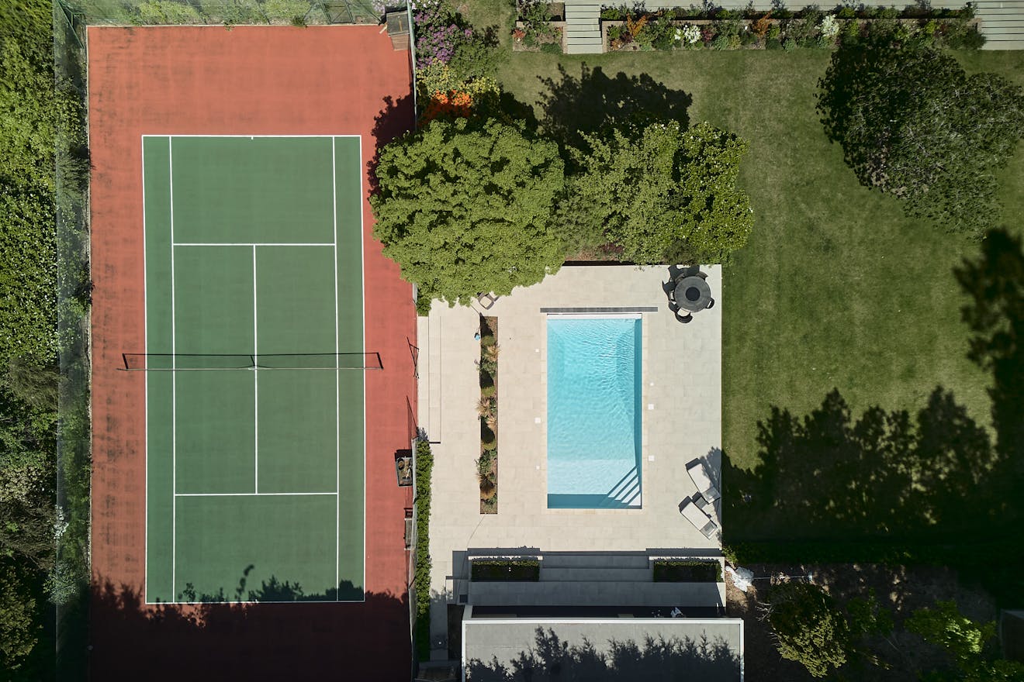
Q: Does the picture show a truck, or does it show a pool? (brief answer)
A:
pool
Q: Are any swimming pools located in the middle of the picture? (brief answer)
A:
Yes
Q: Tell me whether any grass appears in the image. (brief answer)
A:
Yes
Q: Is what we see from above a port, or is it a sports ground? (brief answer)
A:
sports ground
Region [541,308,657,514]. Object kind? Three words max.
swimming pool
